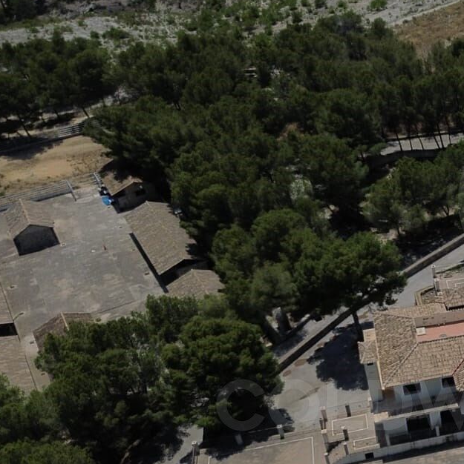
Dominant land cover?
trees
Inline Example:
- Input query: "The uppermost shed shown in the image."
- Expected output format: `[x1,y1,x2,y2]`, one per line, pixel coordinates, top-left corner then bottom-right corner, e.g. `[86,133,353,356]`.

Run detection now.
[100,154,159,212]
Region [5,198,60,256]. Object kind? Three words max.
shed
